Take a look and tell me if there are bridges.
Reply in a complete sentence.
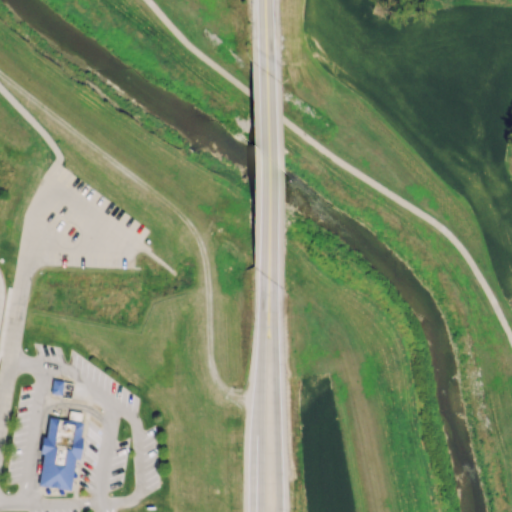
Yes, the picture does show a bridge.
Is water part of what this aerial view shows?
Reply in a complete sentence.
Yes, water shows up in the scene.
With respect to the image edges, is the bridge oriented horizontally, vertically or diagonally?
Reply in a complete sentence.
In this picture, the bridge lies vertically.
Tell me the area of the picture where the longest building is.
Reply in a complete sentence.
The longest building appears toward the bottom left of the photo.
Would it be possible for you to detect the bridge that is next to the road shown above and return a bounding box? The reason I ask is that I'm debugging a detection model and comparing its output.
[246,62,286,289]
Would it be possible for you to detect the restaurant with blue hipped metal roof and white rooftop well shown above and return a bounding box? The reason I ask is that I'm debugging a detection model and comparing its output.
[40,410,88,491]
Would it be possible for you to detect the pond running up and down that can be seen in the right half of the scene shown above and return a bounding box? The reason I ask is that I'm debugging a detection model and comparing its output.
[301,376,356,512]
